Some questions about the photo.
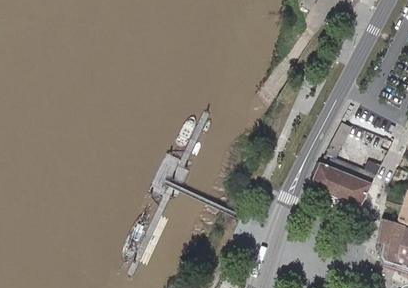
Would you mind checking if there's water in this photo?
Yes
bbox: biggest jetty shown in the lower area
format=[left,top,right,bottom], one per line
[128,110,210,276]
